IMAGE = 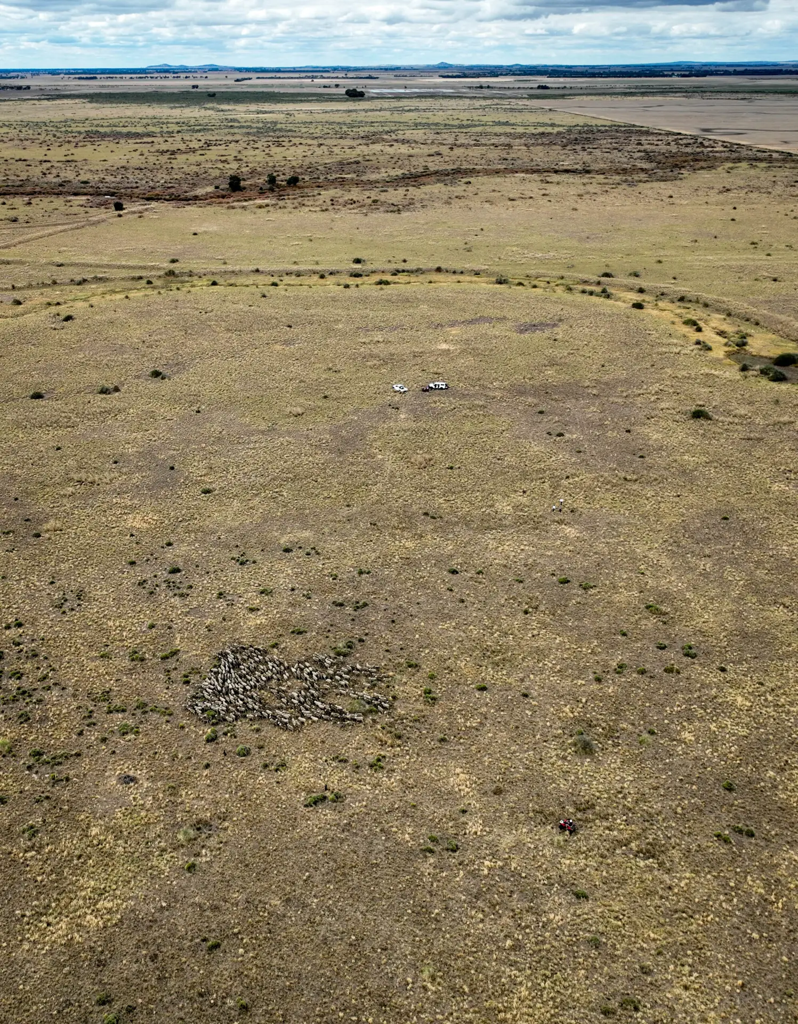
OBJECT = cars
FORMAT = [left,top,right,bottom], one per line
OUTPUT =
[428,381,449,390]
[393,384,407,391]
